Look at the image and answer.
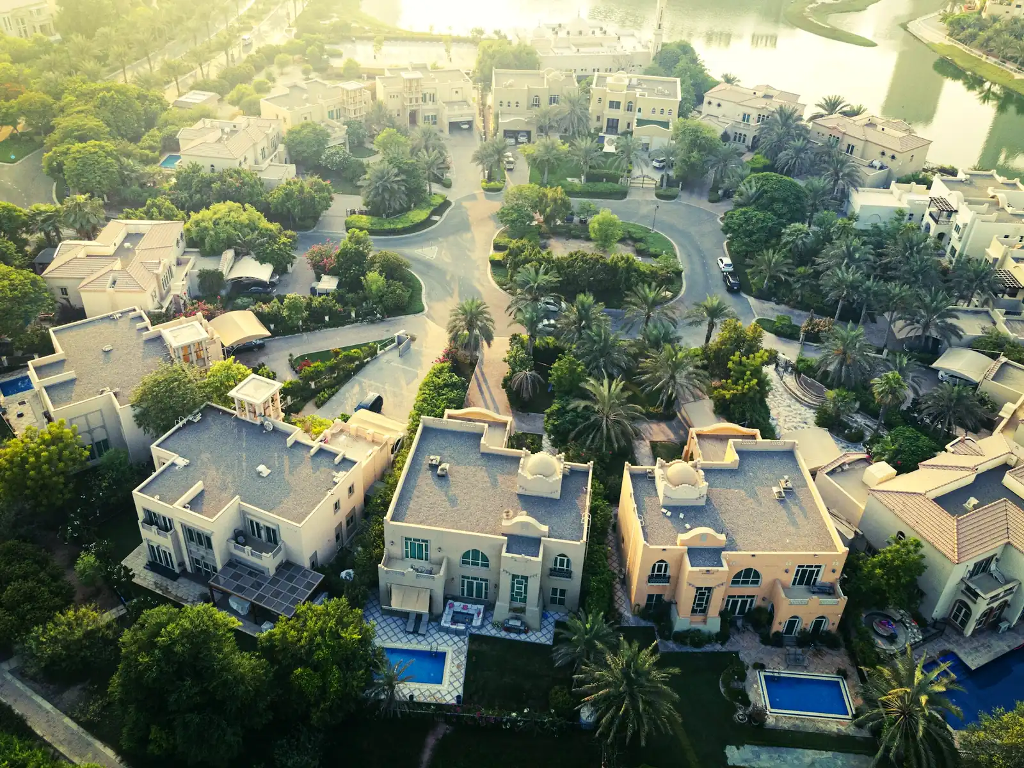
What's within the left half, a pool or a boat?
pool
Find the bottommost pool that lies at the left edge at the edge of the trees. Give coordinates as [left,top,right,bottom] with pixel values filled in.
[0,372,33,399]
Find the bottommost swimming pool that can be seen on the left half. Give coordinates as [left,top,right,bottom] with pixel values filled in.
[355,636,456,693]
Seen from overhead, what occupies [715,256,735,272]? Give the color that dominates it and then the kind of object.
white car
